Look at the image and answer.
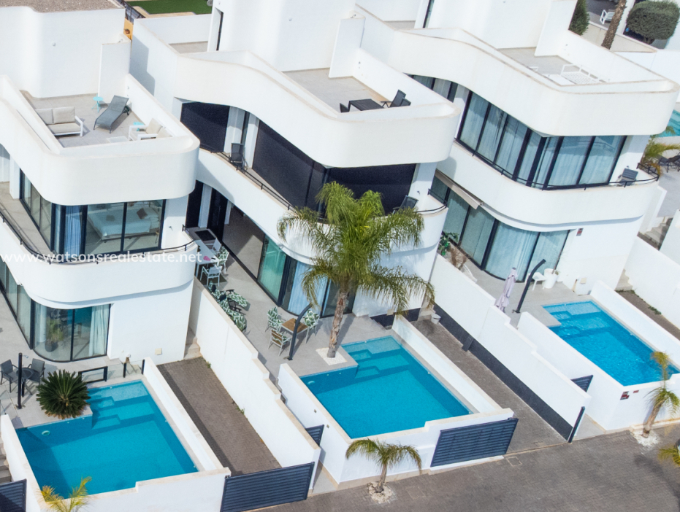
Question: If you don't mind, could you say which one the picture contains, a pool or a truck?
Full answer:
The image shows a pool.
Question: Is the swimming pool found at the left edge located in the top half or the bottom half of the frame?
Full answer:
It is in the bottom half that the swimming pool found at the left edge appears.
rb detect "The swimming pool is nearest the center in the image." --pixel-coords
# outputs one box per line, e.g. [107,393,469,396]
[310,334,467,435]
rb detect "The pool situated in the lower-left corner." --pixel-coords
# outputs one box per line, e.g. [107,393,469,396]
[20,380,196,500]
